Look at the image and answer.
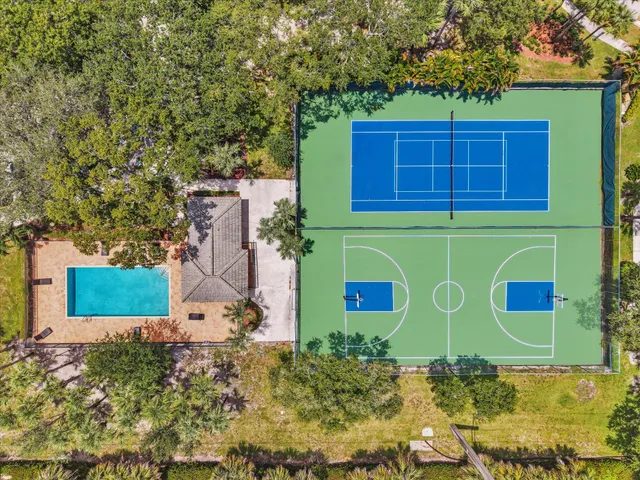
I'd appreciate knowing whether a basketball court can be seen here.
Yes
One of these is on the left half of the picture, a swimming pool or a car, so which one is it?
swimming pool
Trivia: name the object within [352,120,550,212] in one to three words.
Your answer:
tennis court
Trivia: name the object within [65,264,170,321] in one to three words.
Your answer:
swimming pool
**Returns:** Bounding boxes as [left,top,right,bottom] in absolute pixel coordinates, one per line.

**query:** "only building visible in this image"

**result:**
[181,196,249,302]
